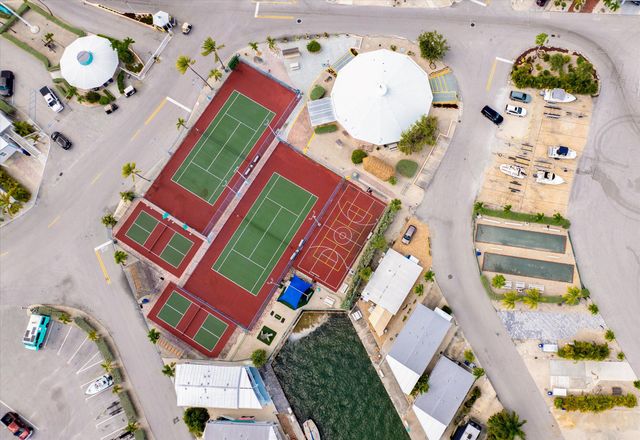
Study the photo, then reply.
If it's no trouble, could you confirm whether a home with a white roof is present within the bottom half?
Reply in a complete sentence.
Yes, there is a home with a white roof within the bottom half.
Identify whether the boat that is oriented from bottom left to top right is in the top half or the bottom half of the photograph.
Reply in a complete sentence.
Seen from above, the boat that is oriented from bottom left to top right lies in the bottom half of the view.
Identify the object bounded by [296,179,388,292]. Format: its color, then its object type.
red basketball court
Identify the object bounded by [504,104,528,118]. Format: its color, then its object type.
white vehicle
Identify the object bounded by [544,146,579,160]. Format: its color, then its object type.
white boat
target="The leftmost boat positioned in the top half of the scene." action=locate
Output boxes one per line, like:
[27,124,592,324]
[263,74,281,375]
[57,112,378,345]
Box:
[499,165,531,180]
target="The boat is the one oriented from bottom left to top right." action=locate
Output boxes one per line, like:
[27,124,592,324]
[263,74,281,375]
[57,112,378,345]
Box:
[83,372,115,394]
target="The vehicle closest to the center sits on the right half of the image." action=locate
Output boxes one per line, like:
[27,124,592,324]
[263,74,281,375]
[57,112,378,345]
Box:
[400,222,418,246]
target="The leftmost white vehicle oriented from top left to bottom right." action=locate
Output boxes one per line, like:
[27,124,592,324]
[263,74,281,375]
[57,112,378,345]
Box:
[41,88,62,111]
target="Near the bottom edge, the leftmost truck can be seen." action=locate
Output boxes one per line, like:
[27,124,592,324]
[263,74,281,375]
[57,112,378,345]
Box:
[4,412,32,439]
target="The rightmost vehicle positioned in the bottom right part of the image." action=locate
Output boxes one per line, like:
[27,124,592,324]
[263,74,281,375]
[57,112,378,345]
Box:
[453,415,481,440]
